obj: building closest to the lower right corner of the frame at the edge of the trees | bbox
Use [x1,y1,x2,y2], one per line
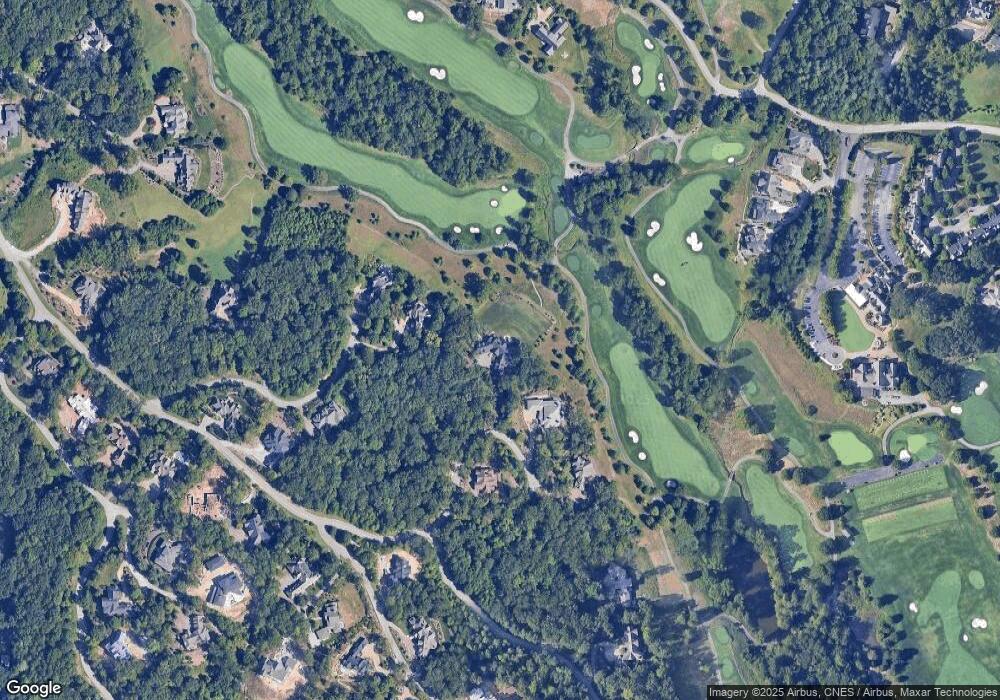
[855,360,901,391]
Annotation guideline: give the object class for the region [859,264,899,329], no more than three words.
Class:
building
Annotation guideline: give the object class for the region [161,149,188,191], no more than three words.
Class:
house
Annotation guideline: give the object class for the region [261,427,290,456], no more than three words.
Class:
house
